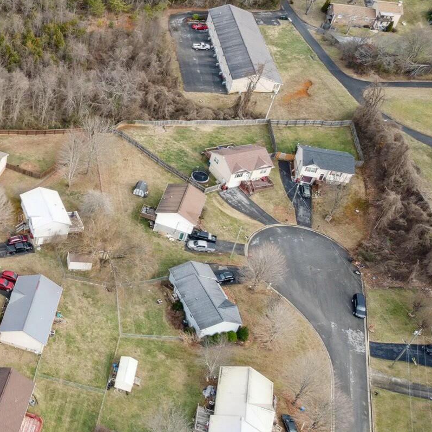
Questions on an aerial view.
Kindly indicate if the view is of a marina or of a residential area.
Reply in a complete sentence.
This image shows a residential area.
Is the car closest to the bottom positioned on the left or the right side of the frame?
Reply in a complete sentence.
It is on the right.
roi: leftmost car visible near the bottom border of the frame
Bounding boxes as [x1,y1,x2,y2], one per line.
[280,412,300,432]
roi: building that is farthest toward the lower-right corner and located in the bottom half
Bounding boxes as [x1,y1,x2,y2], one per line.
[193,365,283,432]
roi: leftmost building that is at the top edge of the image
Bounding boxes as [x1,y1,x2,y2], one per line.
[204,4,283,96]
